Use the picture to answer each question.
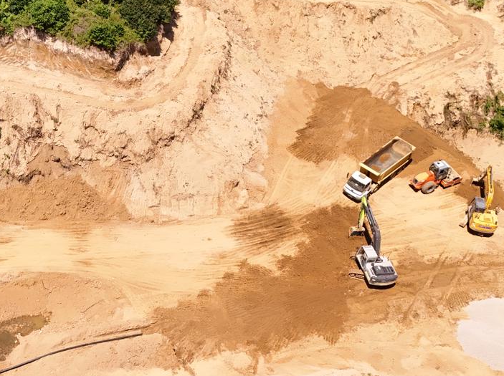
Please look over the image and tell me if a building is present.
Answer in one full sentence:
No, the photo shows no building.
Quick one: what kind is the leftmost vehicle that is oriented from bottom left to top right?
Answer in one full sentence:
From above, the leftmost vehicle that is oriented from bottom left to top right can be identified as a truck.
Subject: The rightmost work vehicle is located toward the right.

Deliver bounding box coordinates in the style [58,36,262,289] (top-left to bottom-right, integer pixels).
[455,166,496,239]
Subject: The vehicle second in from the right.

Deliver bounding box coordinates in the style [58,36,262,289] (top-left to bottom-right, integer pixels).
[411,162,463,200]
